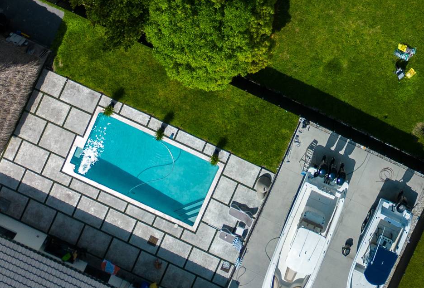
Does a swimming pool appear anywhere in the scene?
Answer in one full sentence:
Yes, a swimming pool can be made out from above.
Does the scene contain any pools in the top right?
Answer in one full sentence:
No, looking in the top right, there is no pool.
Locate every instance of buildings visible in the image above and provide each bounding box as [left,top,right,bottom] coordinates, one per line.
[0,214,164,288]
[0,29,54,172]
